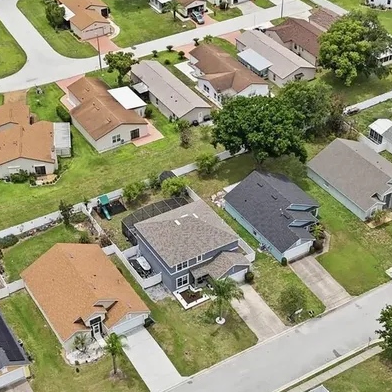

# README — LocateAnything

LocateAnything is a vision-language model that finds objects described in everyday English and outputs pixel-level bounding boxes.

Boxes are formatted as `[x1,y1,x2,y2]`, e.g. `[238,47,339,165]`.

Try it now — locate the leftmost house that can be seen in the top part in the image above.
[0,103,74,179]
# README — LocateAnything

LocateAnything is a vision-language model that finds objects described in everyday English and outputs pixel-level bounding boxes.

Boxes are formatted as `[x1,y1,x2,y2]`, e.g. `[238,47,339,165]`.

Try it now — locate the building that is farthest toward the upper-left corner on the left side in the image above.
[49,0,108,40]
